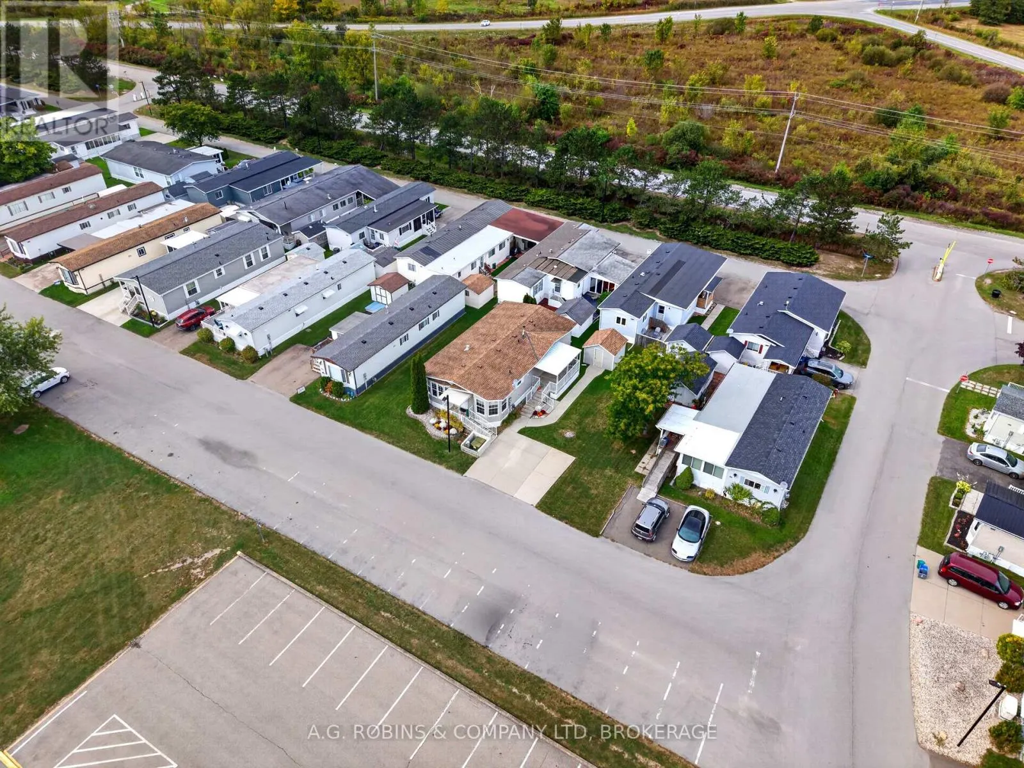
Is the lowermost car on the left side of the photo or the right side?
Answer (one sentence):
It is on the right.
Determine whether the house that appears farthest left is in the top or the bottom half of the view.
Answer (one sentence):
Seen from above, the house that appears farthest left lies in the top half of the view.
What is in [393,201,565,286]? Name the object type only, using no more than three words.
house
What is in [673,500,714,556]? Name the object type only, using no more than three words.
car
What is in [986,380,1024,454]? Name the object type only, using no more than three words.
house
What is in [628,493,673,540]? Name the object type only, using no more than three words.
car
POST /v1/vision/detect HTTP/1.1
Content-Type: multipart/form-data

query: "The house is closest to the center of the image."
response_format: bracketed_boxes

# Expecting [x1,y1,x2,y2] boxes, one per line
[427,303,583,443]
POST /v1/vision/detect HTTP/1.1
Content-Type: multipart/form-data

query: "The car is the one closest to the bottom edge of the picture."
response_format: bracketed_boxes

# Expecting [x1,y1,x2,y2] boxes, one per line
[941,552,1024,612]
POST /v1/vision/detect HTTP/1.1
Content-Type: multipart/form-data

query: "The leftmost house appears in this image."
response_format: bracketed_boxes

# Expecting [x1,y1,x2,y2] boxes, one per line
[0,83,38,122]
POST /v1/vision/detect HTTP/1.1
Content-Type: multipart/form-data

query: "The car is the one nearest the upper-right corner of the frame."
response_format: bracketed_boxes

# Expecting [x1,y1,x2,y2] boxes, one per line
[801,353,856,388]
